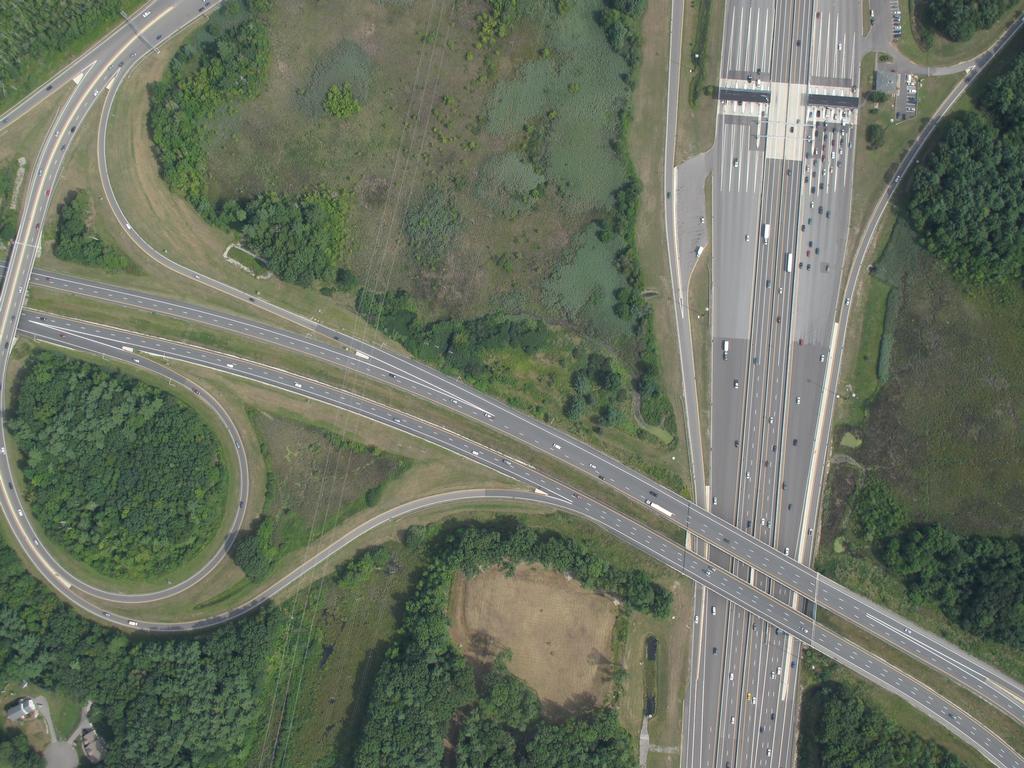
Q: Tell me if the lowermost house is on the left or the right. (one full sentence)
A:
The lowermost house appears in the left half of the scene.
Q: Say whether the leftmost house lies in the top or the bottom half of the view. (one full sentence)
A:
It is in the bottom half that the leftmost house appears.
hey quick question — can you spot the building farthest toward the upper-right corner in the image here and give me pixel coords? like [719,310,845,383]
[876,71,896,95]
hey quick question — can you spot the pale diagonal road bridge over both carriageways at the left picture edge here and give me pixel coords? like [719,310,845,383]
[0,243,37,349]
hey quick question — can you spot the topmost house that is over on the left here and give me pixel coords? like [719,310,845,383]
[5,698,41,721]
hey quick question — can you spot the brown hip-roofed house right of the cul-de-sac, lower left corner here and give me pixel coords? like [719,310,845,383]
[79,729,101,763]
